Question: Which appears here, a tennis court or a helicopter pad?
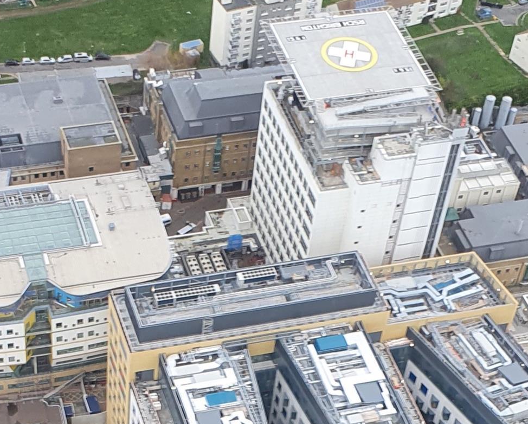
helicopter pad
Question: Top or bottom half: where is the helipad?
top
